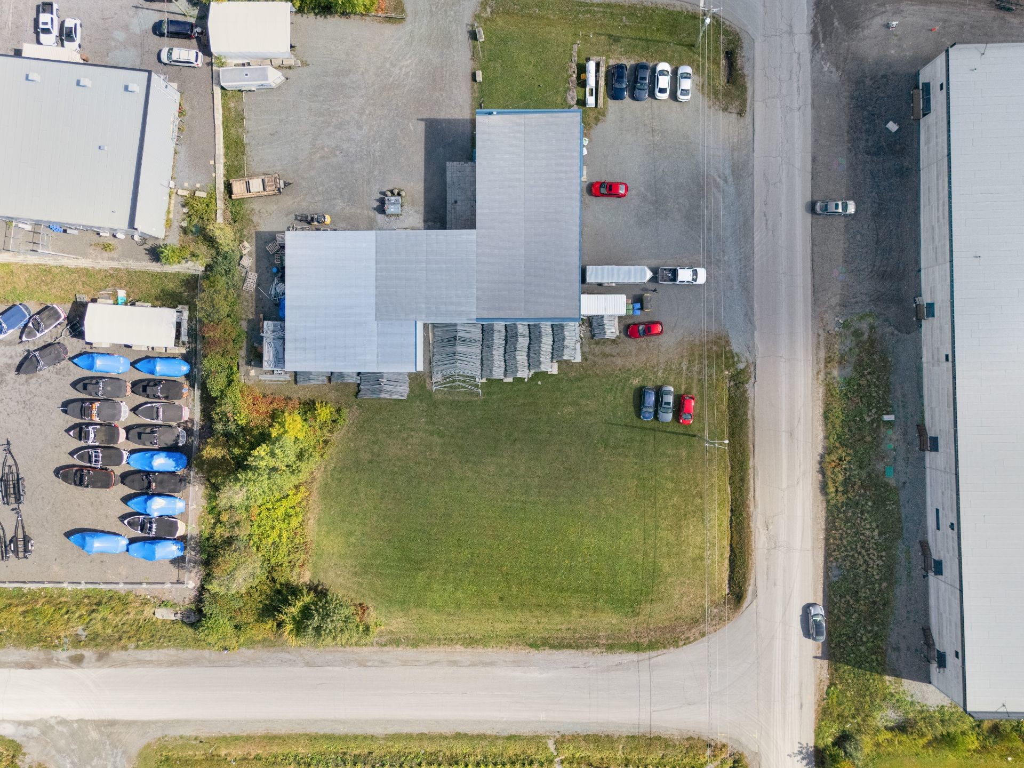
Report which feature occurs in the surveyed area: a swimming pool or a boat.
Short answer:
boat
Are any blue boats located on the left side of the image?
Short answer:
Yes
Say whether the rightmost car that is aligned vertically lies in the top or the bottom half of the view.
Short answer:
bottom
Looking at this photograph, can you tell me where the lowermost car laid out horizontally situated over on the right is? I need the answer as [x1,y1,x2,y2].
[626,321,664,339]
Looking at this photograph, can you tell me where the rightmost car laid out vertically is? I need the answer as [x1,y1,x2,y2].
[805,601,825,643]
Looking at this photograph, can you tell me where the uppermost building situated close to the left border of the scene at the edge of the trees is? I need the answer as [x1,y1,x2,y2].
[0,56,180,241]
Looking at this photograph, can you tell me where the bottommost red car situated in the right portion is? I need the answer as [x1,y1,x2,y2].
[678,392,696,425]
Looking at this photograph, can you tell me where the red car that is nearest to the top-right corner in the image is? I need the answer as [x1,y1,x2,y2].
[591,180,628,199]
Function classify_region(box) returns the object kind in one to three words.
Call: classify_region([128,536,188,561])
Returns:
boat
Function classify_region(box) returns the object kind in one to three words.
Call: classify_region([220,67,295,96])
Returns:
trailer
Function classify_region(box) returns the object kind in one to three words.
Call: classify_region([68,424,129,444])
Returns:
boat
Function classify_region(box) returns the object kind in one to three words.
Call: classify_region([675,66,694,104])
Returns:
car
